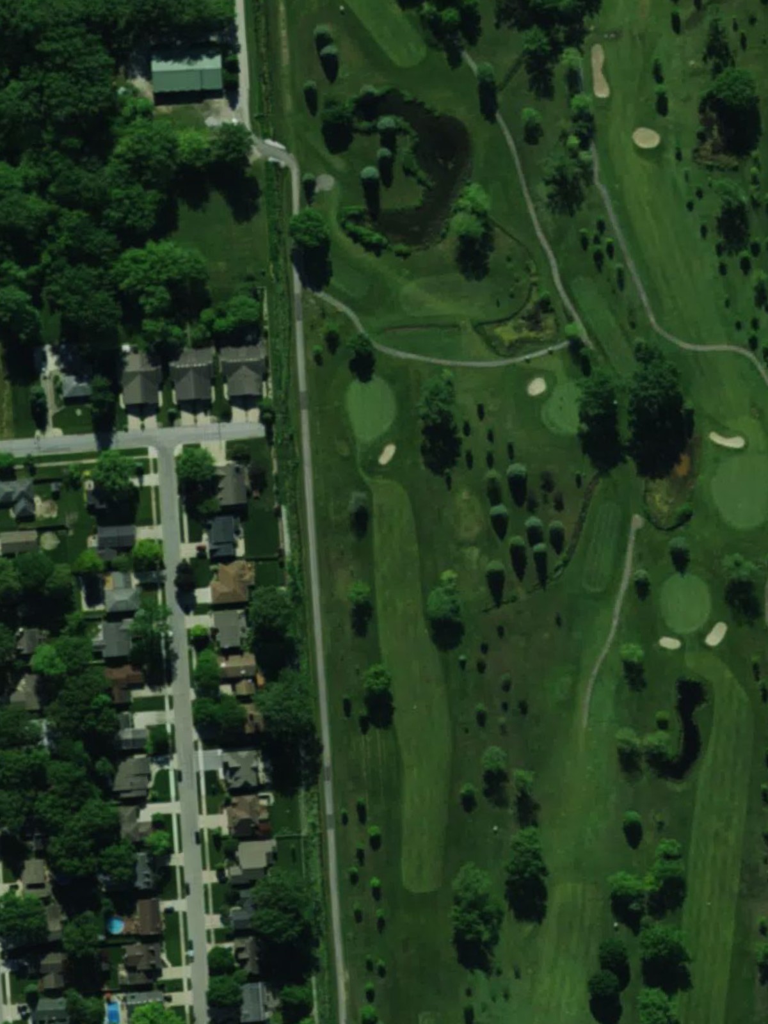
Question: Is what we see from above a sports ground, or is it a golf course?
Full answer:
This looks like a golf course.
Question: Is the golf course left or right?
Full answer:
The golf course is on the right side of the image.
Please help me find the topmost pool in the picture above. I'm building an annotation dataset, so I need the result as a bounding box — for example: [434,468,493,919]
[107,917,124,934]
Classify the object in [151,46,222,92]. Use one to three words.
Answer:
barn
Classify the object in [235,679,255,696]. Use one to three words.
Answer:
building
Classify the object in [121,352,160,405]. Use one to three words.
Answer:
house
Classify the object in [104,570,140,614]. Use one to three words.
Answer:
house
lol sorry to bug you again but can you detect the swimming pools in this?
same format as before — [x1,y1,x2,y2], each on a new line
[104,999,122,1024]
[107,917,124,934]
